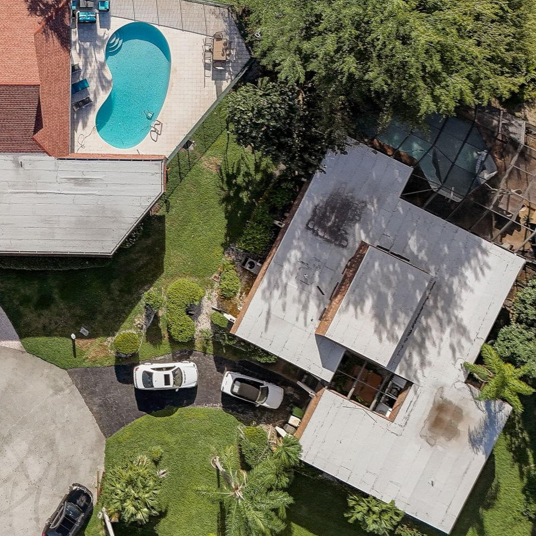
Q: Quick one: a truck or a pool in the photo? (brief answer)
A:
pool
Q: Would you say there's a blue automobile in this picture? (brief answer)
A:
No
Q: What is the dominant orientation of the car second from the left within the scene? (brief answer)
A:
from left to right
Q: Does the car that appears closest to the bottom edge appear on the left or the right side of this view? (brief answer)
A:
left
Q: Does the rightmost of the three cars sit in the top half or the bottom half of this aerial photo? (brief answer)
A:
bottom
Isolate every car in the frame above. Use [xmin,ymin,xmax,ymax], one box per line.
[132,361,197,393]
[220,368,284,411]
[42,482,91,536]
